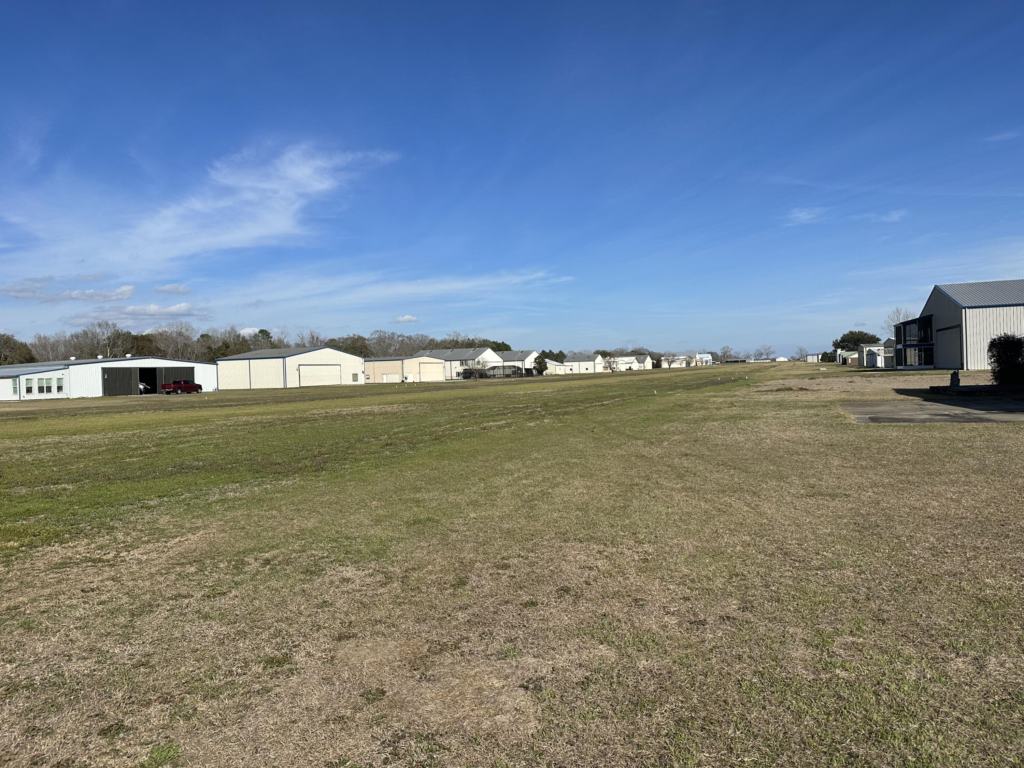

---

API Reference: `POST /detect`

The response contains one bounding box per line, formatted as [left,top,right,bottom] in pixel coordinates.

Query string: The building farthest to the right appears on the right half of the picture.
[890,278,1024,370]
